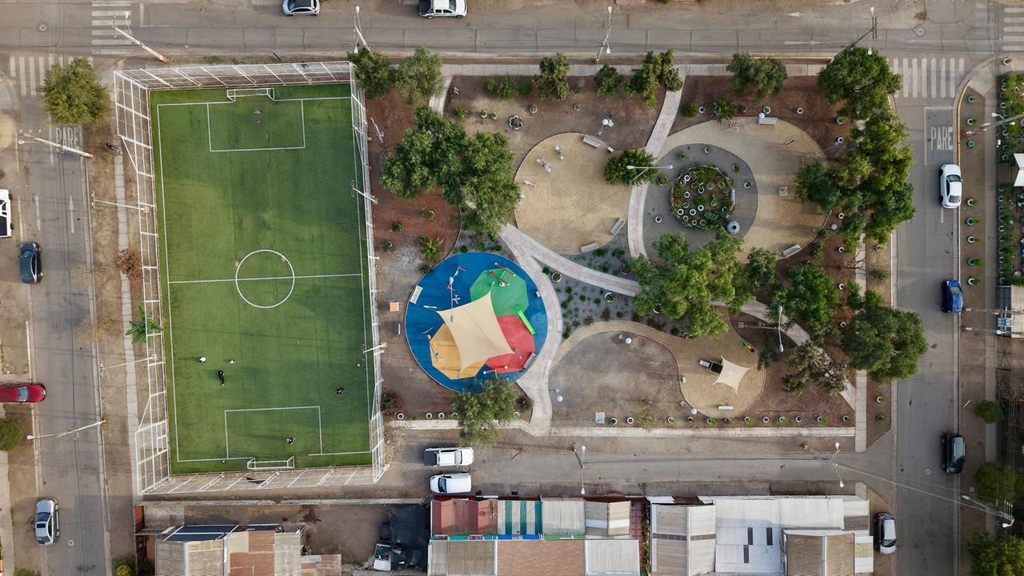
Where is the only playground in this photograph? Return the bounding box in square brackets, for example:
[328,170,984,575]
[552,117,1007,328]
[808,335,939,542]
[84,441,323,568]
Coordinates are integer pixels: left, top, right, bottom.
[404,252,550,393]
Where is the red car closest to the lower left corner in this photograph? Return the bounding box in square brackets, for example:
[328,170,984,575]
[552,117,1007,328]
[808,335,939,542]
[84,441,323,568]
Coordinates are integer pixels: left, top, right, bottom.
[0,383,42,405]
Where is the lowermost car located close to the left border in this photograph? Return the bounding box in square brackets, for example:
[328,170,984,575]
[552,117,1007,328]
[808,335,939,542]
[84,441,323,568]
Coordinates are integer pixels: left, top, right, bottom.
[31,499,58,546]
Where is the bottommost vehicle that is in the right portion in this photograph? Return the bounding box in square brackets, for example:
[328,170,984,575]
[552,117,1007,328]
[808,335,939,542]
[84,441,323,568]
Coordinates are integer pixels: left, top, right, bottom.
[869,509,896,552]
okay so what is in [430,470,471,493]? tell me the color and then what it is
white vehicle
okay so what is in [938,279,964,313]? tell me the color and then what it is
blue car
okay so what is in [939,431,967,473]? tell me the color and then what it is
black car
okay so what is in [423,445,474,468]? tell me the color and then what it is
white truck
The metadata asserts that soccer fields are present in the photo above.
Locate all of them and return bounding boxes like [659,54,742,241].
[150,79,387,475]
